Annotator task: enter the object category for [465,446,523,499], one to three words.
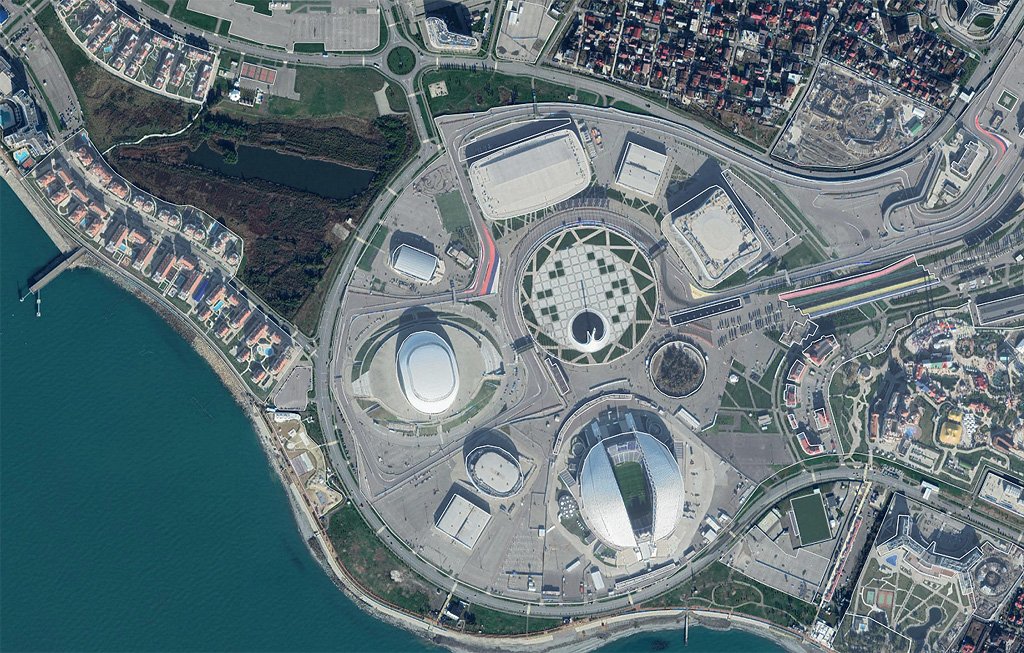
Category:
stadium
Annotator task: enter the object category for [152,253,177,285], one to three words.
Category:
house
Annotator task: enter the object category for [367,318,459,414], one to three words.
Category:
stadium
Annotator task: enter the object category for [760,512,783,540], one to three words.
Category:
building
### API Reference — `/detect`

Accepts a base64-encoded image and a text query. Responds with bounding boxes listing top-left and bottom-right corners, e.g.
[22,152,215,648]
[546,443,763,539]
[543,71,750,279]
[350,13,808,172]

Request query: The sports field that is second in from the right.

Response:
[611,461,651,523]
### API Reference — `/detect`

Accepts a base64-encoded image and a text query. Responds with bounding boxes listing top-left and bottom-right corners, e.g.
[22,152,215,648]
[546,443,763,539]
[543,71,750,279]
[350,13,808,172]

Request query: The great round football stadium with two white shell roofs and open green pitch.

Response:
[560,406,685,561]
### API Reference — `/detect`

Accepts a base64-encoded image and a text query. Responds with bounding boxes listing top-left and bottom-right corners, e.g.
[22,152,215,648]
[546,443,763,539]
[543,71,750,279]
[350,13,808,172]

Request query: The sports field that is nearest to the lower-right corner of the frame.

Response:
[790,492,832,546]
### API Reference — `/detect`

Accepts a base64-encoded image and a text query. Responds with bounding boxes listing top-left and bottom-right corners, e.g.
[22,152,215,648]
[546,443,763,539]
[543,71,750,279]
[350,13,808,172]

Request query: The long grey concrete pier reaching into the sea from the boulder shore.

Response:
[20,246,88,316]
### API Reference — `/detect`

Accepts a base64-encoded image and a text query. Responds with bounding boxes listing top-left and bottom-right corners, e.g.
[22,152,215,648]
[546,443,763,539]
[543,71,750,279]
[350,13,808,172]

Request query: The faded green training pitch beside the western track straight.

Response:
[435,190,476,231]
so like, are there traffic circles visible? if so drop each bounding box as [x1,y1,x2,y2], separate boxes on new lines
[378,38,426,84]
